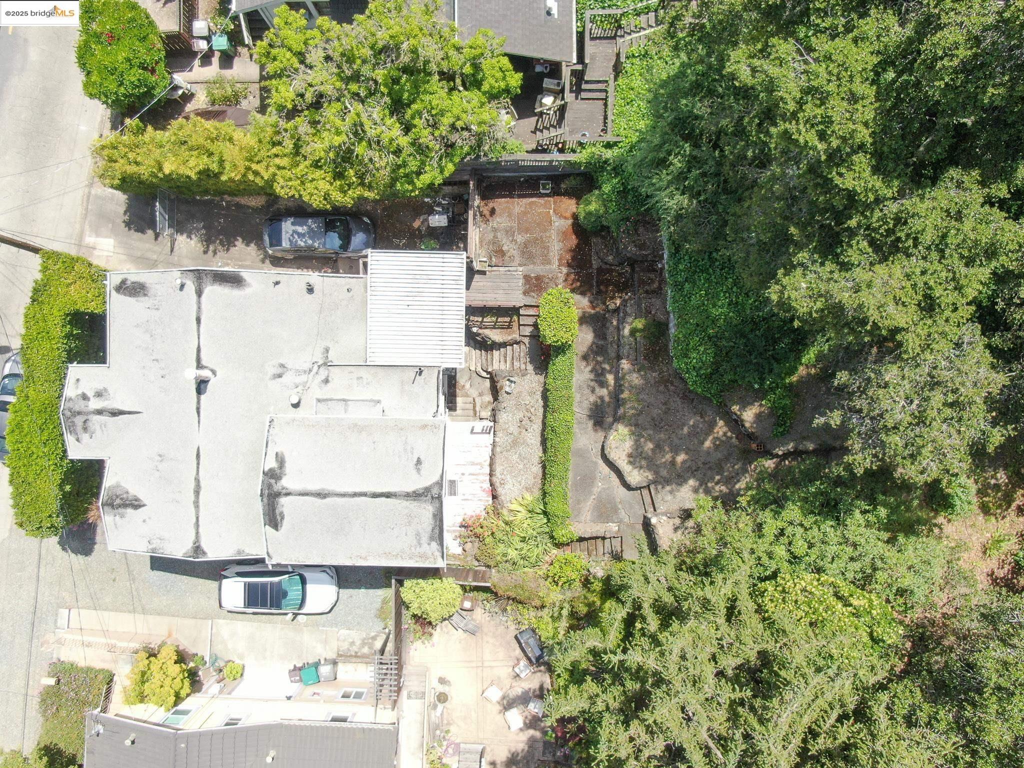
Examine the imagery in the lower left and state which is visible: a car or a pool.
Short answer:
car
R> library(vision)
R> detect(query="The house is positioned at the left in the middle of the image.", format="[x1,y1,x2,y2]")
[59,250,468,573]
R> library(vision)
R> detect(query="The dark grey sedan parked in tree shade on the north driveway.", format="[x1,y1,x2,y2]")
[262,211,377,266]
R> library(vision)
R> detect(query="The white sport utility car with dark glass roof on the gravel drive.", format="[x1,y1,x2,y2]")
[219,560,340,621]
